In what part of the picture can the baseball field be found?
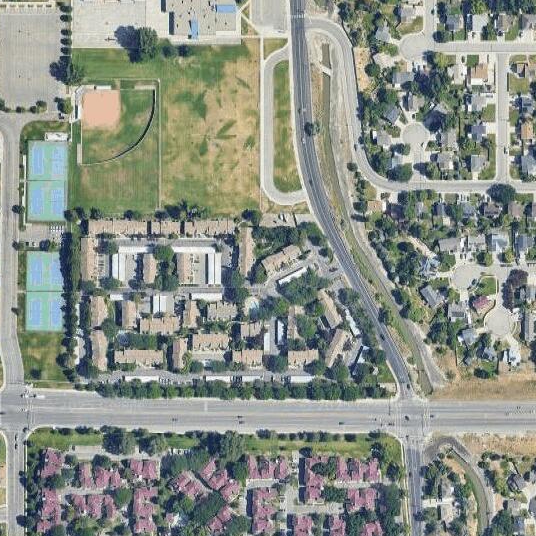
top left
